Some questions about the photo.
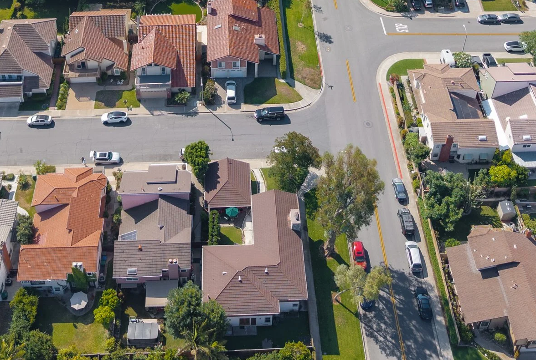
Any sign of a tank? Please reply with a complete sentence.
No, there appears to be no tank in this shot.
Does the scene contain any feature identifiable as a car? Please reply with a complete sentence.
Yes, a car can be made out from above.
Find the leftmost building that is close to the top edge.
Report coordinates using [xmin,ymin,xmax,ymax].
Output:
[0,16,61,107]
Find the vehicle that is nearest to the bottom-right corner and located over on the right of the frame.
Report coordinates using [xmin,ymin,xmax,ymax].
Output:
[414,288,431,320]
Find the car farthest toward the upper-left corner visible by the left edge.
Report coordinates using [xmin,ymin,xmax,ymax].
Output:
[26,114,53,128]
